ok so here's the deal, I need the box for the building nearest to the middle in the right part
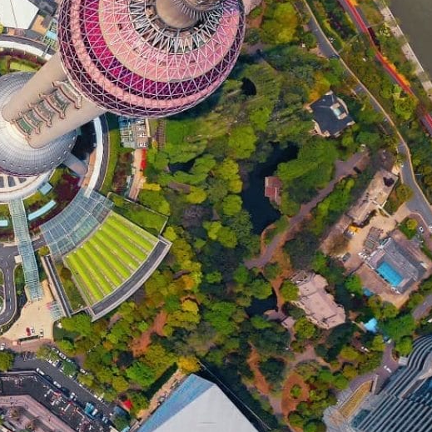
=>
[261,177,282,202]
